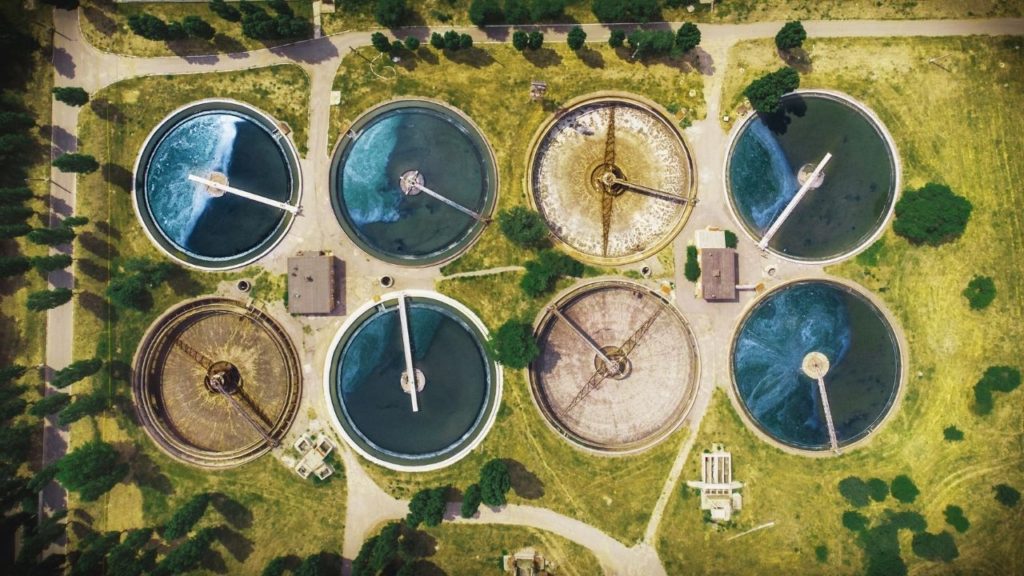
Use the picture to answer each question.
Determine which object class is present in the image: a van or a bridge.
bridge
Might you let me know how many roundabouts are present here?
0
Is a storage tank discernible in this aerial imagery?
Yes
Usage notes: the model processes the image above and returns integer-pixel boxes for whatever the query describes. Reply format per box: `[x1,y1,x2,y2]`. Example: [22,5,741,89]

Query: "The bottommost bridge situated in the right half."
[818,370,842,453]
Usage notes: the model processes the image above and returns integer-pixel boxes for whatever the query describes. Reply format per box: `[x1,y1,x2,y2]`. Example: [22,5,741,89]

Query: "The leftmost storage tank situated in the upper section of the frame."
[132,99,304,270]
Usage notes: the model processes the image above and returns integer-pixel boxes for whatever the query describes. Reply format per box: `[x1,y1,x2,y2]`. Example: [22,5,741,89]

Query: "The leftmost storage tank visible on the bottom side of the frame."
[132,296,304,468]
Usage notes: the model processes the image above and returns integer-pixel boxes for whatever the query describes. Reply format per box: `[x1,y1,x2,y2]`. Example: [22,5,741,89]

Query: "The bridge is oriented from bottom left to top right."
[757,152,832,250]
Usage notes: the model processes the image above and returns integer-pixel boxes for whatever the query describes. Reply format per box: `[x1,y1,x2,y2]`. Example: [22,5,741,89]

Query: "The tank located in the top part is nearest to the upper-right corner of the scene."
[722,88,900,265]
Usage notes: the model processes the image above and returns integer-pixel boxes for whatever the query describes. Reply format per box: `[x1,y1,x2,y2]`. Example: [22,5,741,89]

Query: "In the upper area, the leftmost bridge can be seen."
[190,173,301,216]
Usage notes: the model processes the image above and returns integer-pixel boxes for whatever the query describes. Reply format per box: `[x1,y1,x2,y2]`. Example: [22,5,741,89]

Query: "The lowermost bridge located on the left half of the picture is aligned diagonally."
[214,382,279,449]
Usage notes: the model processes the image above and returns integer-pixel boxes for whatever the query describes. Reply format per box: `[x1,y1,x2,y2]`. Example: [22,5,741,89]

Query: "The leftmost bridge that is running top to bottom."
[397,293,420,413]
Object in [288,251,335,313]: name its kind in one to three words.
building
